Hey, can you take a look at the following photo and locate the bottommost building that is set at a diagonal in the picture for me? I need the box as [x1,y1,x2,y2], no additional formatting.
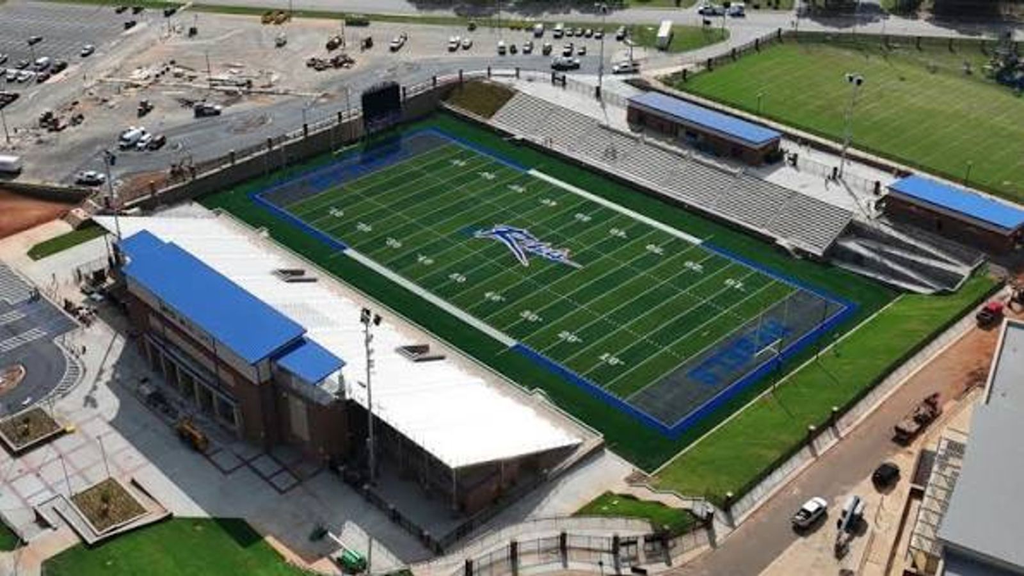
[114,232,368,469]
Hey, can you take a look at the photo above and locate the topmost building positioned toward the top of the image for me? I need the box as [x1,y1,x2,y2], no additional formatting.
[630,85,785,160]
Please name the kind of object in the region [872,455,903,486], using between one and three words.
car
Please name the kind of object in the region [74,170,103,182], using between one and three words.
vehicle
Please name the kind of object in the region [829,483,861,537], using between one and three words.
truck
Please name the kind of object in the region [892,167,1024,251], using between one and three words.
building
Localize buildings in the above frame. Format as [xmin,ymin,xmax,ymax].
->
[630,85,785,160]
[929,314,1024,576]
[114,232,368,469]
[892,167,1024,251]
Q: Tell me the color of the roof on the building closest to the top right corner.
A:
blue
